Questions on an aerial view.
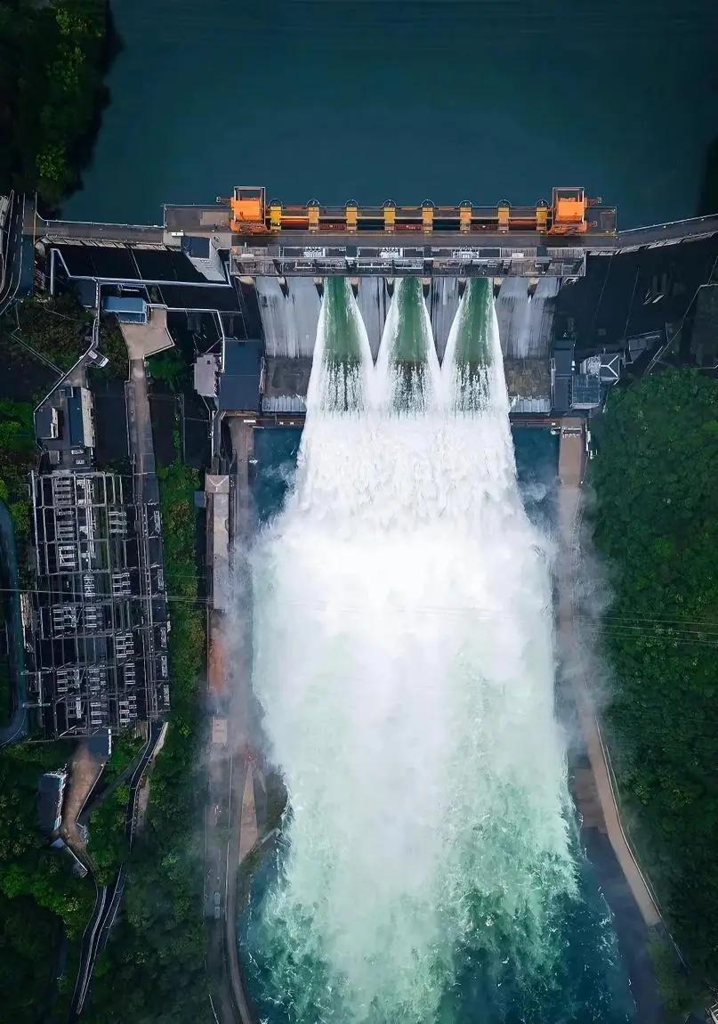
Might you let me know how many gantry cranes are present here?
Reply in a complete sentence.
The count of gantry cranes comes to 2.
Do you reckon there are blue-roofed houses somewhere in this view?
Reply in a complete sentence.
Yes, I can see a blue-roofed house in this picture.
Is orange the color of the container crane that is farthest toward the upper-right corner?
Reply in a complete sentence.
Yes, the container crane that is farthest toward the upper-right corner is indeed orange.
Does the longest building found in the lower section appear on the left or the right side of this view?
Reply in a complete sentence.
The longest building found in the lower section is on the left side of the image.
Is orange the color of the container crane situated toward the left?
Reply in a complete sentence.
Yes, orange is the color of the container crane situated toward the left.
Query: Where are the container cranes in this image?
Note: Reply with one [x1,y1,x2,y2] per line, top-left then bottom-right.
[542,187,600,237]
[217,187,271,237]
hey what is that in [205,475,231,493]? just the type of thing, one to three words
building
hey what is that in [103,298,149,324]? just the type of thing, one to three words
house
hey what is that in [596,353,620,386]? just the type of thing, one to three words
house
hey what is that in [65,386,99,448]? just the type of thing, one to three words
building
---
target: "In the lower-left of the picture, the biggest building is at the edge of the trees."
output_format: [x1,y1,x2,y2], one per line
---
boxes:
[37,767,71,831]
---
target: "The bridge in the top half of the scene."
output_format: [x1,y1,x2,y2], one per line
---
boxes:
[230,249,585,279]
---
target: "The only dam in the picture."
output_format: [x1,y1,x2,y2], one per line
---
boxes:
[33,205,718,415]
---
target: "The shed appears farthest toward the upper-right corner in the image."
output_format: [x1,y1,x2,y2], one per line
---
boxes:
[623,332,660,364]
